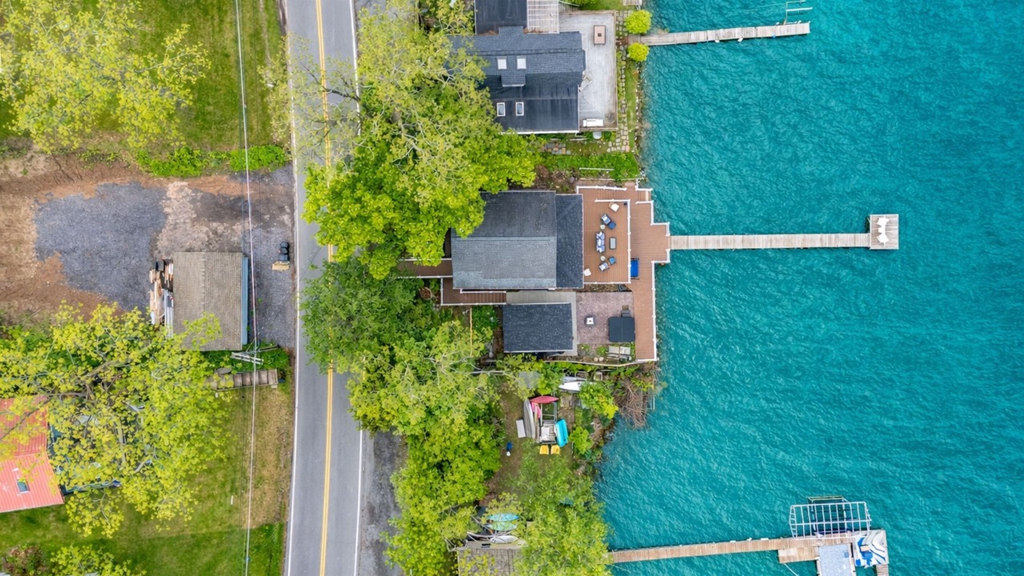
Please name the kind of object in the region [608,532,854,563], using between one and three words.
pier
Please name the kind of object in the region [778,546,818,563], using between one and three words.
pier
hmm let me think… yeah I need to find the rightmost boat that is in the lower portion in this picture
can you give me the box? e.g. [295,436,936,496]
[816,542,854,576]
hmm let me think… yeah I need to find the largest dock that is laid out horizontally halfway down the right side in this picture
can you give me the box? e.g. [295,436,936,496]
[671,233,869,249]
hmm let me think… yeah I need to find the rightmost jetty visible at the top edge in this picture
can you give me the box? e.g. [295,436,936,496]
[642,20,811,47]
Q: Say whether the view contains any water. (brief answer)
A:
Yes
